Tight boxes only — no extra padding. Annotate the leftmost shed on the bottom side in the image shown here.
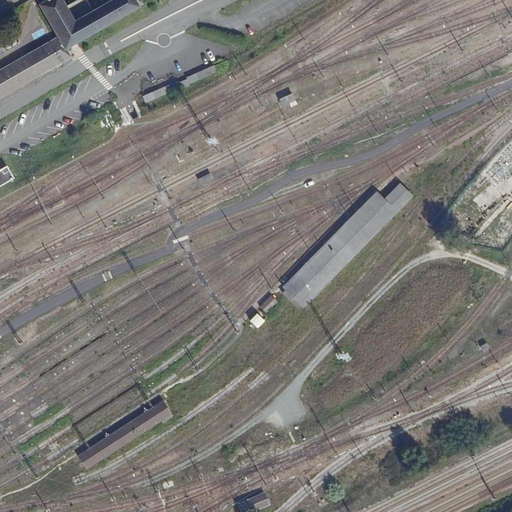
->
[79,400,174,470]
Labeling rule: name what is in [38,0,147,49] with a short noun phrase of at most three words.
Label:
building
